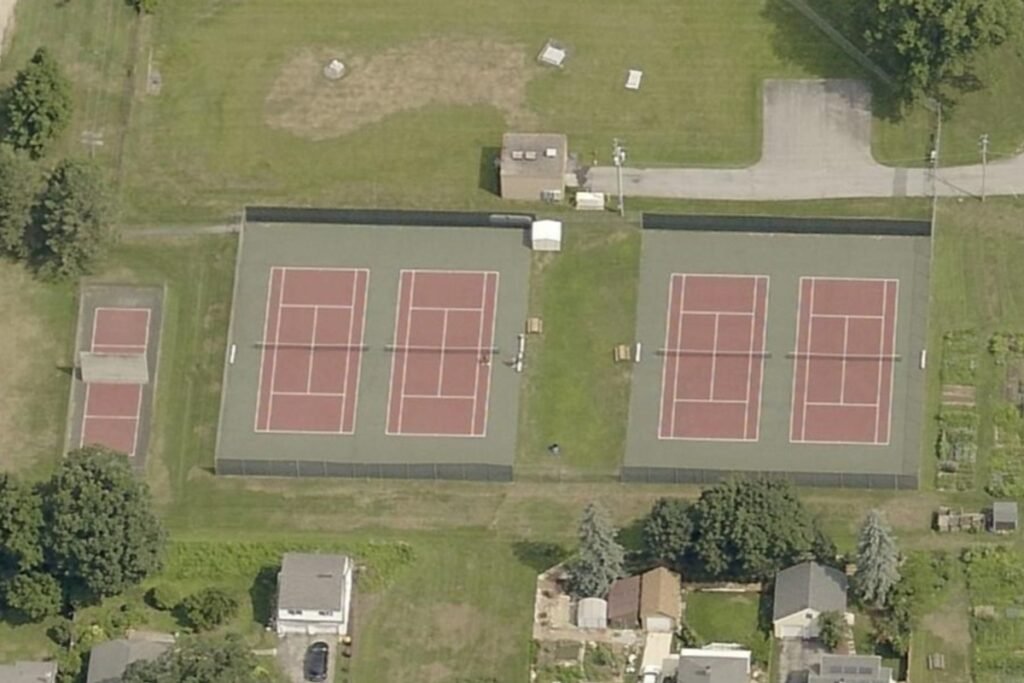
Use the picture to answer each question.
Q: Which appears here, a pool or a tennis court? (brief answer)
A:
tennis court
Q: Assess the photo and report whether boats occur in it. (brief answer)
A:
No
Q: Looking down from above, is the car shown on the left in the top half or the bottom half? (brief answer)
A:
bottom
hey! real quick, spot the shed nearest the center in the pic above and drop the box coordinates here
[532,218,563,251]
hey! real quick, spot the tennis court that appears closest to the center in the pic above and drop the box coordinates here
[386,270,499,437]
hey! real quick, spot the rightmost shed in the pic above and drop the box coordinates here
[991,501,1018,532]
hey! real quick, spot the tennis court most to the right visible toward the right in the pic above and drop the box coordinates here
[790,277,899,444]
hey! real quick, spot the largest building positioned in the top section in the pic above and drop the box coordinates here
[498,134,567,207]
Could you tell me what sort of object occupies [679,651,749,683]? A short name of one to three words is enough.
house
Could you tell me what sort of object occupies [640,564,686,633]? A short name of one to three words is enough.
building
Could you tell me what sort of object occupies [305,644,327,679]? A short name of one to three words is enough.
car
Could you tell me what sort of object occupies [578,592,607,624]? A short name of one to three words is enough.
shed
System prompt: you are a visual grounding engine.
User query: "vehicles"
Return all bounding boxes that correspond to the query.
[642,667,663,683]
[305,644,327,679]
